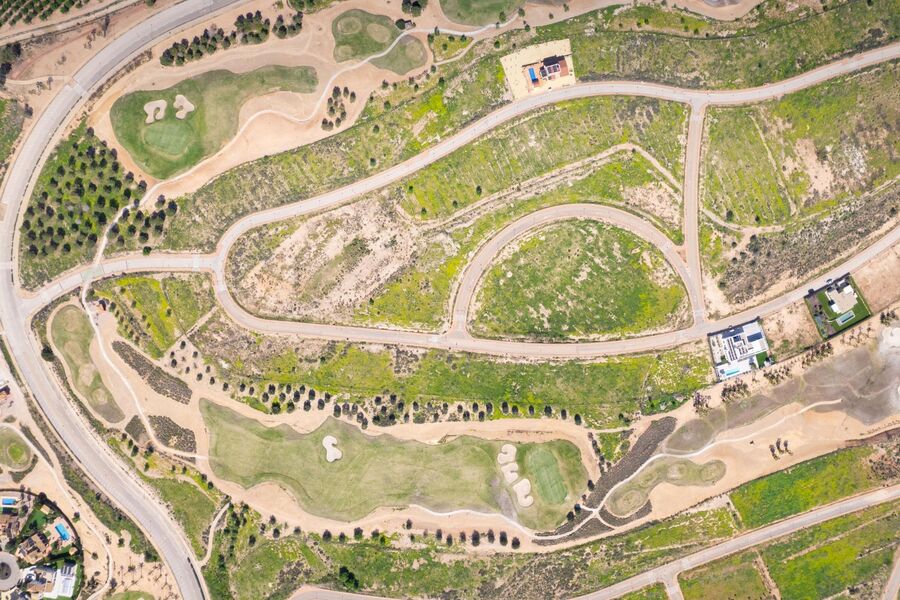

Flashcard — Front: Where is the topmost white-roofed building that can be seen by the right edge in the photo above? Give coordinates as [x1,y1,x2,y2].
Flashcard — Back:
[823,280,858,313]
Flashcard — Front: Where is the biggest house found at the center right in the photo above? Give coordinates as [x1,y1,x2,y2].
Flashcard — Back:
[722,328,768,362]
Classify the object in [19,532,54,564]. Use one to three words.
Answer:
house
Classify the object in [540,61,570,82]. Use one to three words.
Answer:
house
